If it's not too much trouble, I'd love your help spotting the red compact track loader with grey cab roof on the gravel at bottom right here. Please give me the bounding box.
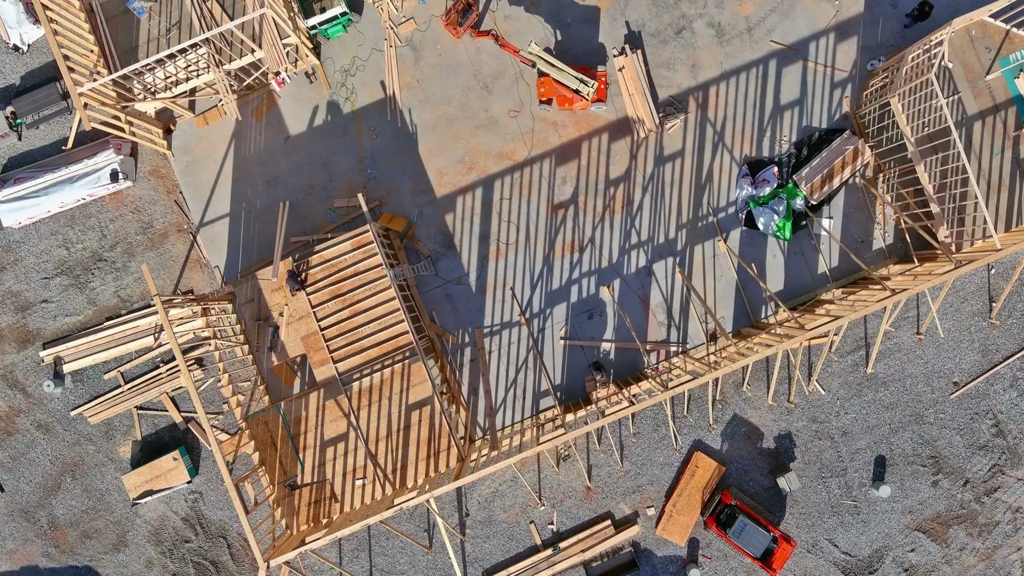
[697,485,800,576]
